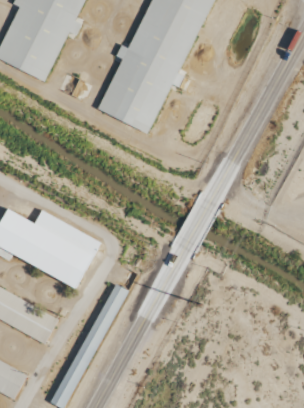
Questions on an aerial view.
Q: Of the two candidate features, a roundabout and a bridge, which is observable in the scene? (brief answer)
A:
bridge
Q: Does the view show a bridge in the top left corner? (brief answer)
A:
No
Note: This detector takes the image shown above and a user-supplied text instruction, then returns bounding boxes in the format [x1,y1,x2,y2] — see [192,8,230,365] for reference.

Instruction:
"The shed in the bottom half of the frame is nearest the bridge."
[52,286,128,408]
